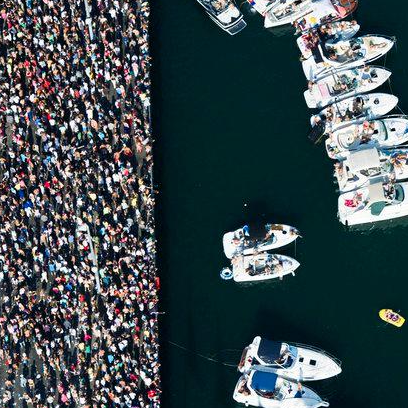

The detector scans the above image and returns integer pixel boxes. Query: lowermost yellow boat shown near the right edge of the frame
[379,309,404,326]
